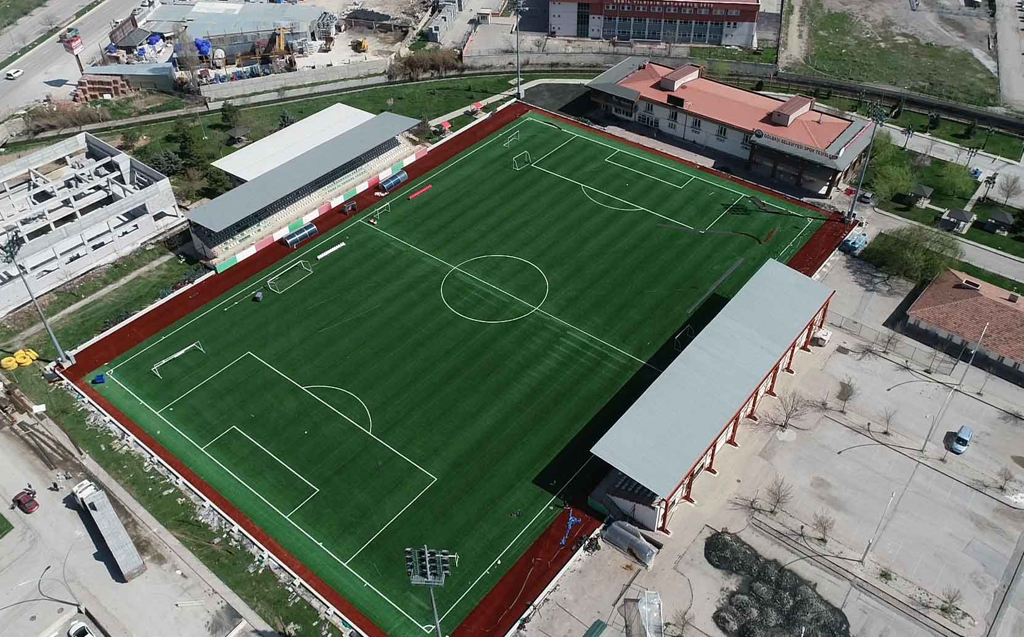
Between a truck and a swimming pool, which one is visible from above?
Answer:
truck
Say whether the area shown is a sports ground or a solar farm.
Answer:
sports ground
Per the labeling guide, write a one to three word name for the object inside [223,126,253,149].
gazebo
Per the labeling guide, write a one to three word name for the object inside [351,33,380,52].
work vehicle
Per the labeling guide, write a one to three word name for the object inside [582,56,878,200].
building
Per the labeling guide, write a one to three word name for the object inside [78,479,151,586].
truck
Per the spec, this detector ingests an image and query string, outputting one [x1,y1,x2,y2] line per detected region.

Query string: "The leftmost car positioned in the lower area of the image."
[10,493,41,515]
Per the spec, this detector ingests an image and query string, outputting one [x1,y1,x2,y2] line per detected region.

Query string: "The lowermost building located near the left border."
[0,129,186,320]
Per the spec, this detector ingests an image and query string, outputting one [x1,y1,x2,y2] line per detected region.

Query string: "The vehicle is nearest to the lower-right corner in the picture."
[952,422,975,452]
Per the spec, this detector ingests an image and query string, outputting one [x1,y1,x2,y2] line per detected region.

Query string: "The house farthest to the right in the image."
[897,269,1024,384]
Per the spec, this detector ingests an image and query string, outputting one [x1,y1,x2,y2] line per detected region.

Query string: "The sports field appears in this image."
[105,117,823,637]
